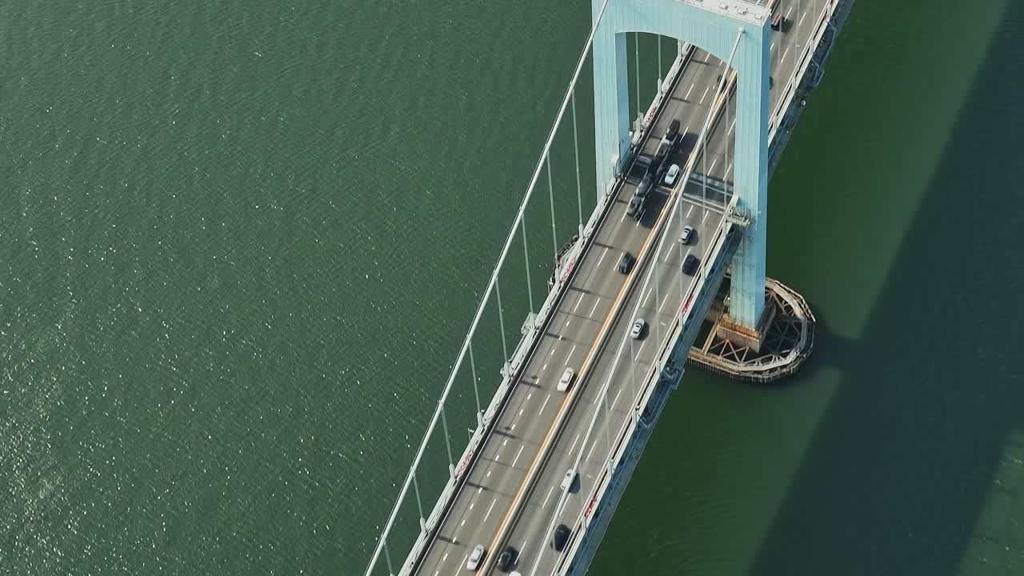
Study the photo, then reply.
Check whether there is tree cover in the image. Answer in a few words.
No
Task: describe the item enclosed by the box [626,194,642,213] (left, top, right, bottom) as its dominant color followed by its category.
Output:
gray car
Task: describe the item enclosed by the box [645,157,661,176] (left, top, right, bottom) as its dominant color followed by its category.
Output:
black car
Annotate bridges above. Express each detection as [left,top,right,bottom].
[363,0,858,576]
